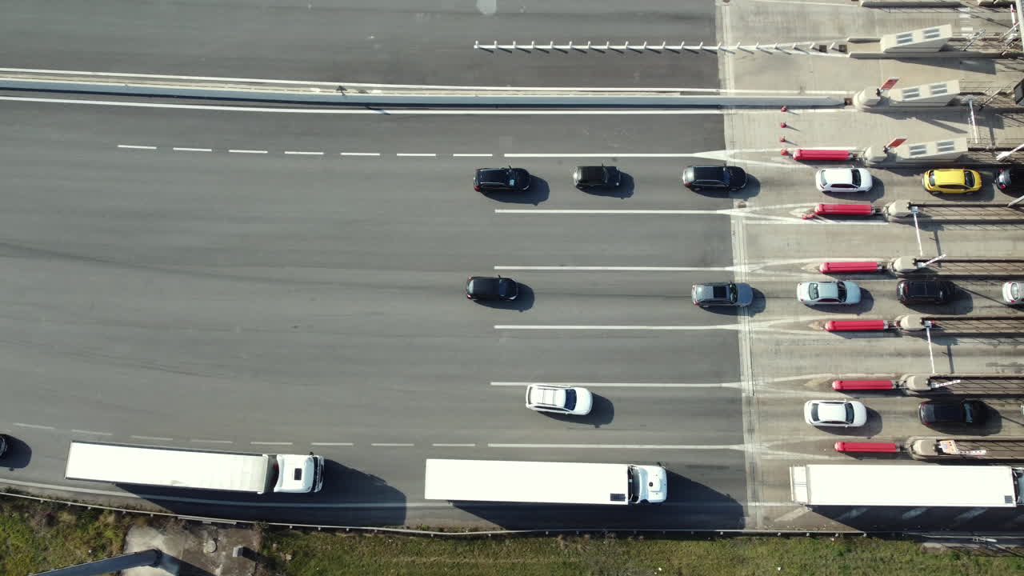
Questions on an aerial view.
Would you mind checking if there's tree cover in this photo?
No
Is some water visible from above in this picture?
No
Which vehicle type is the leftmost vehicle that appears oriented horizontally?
truck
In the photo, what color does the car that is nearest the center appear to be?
black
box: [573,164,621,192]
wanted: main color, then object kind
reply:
black car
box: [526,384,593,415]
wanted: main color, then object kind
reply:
white car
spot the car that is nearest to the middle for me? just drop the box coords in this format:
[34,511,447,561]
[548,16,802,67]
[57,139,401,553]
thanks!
[466,274,519,303]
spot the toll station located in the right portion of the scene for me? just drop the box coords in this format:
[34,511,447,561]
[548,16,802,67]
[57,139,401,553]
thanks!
[717,0,1024,541]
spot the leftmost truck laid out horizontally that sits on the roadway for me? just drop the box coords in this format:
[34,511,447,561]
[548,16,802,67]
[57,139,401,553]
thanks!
[64,441,327,498]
